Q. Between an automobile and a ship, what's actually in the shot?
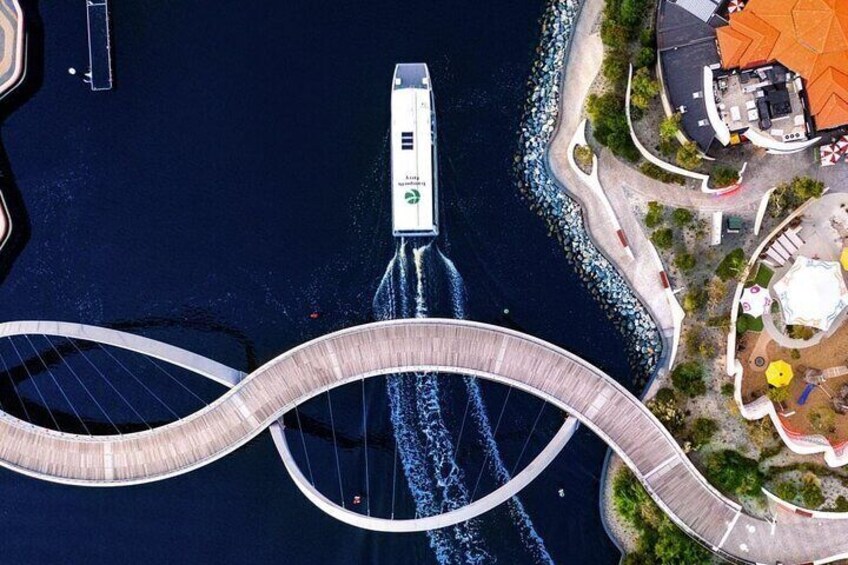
ship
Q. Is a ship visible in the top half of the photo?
Yes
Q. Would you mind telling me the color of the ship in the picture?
white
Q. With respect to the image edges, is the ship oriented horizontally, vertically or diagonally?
vertically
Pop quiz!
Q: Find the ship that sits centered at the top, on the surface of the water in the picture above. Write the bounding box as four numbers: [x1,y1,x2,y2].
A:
[389,63,438,236]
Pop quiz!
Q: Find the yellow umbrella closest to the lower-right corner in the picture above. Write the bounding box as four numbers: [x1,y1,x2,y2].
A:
[764,360,789,385]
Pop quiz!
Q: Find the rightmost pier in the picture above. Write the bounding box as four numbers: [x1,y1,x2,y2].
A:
[84,0,113,91]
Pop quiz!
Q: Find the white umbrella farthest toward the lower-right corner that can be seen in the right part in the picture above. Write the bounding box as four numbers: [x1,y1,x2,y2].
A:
[740,286,770,316]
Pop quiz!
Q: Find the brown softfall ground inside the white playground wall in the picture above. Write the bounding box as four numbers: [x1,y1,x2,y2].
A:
[735,209,848,457]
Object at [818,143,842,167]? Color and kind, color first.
white umbrella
